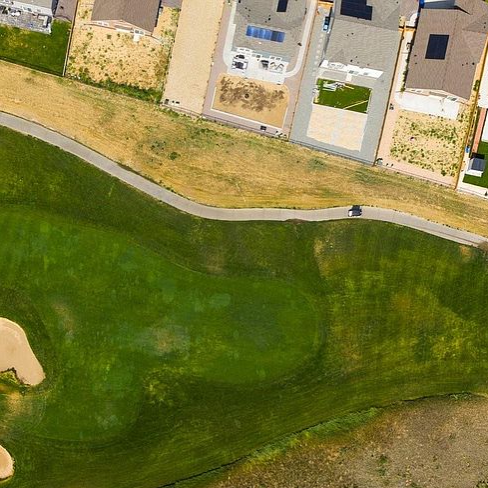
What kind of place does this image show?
golf course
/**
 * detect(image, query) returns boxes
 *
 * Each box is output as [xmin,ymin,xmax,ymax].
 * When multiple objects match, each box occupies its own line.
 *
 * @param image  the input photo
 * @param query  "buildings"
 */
[230,0,304,67]
[0,0,54,16]
[90,0,159,39]
[400,0,488,105]
[320,0,397,78]
[466,155,488,174]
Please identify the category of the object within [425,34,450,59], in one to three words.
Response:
solar panel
